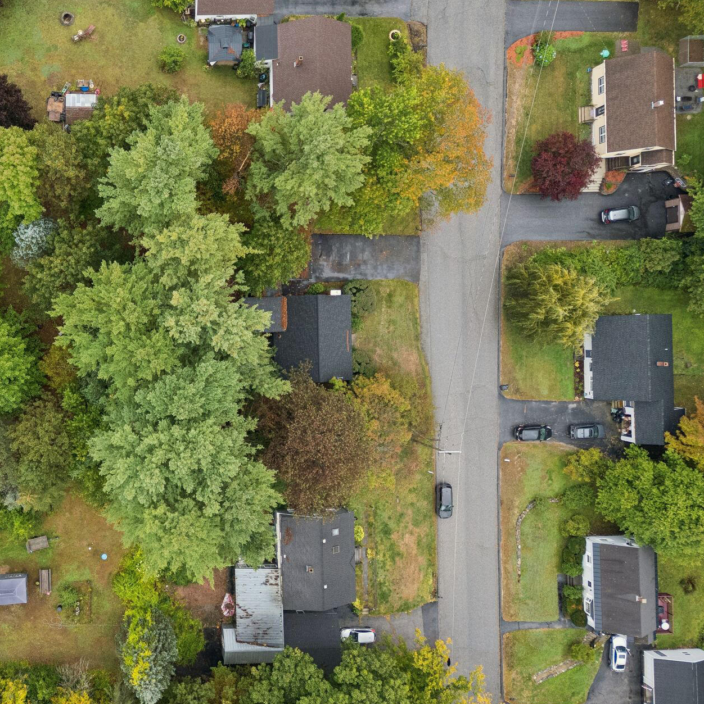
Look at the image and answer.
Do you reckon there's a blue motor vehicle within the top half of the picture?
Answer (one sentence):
No, I see no blue motor vehicle within the top half of the picture.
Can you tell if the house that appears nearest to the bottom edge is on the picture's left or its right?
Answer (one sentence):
You can find the house that appears nearest to the bottom edge on the right side of the picture.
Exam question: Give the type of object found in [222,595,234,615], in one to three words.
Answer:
umbrella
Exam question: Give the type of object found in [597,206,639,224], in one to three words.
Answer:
car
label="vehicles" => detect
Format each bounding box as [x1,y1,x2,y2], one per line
[566,423,603,440]
[512,424,550,442]
[341,625,376,643]
[434,481,453,518]
[597,206,639,224]
[608,633,628,673]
